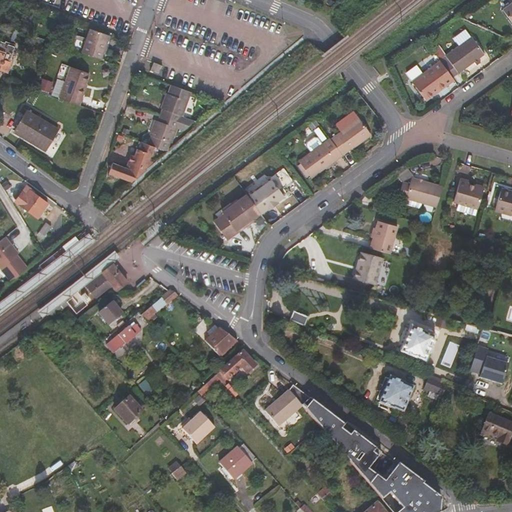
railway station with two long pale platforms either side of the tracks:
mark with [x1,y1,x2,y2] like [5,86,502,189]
[0,236,132,348]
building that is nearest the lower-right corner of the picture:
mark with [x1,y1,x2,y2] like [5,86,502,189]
[478,411,512,445]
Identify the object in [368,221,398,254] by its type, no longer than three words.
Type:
house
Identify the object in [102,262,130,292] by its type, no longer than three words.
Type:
building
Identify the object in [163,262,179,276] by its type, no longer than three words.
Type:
vehicle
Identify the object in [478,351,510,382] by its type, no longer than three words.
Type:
house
